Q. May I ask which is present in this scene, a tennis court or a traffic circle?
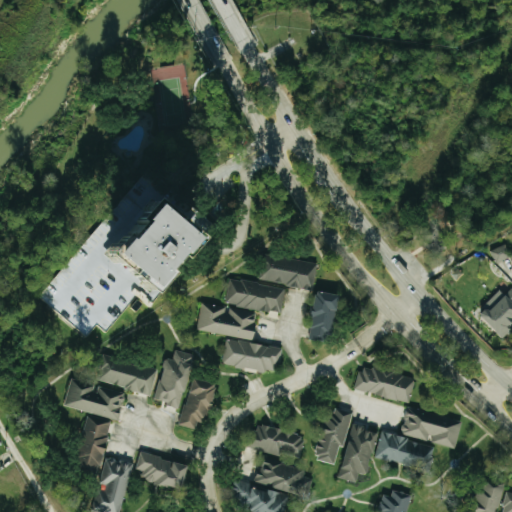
tennis court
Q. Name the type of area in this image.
residential area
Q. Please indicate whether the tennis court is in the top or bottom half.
top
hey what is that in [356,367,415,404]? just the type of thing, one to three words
house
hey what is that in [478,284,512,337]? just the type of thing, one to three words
house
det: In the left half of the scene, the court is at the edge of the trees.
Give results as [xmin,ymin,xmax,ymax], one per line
[150,65,190,135]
